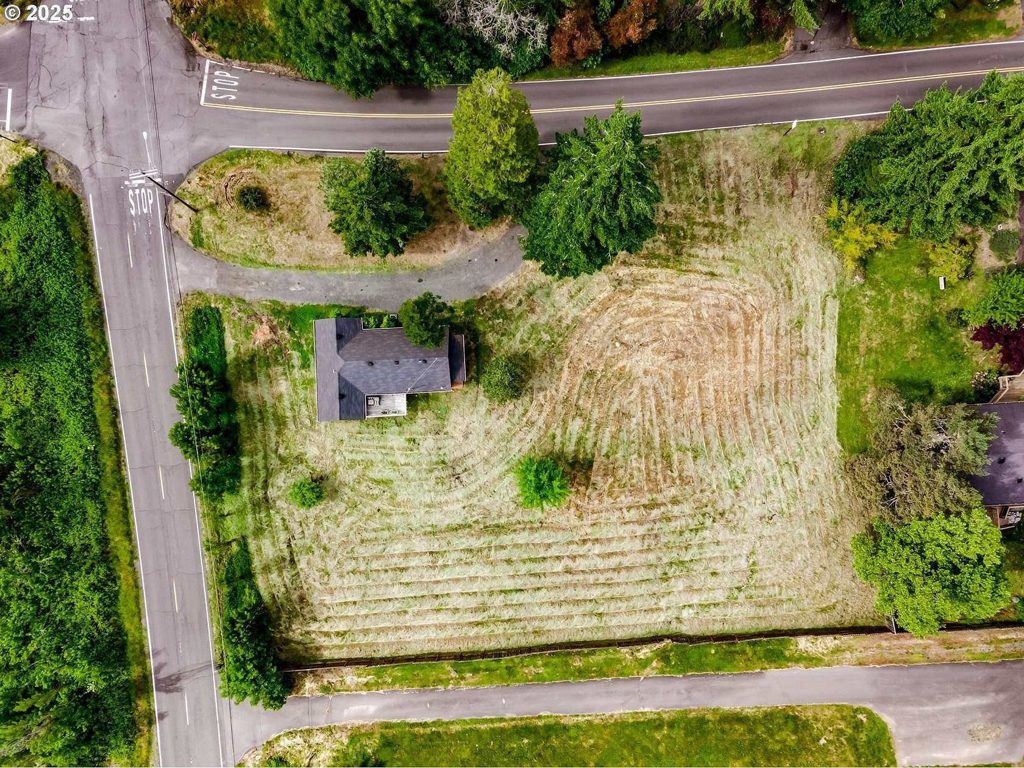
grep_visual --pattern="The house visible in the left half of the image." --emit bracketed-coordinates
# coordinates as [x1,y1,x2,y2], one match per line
[314,316,467,422]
